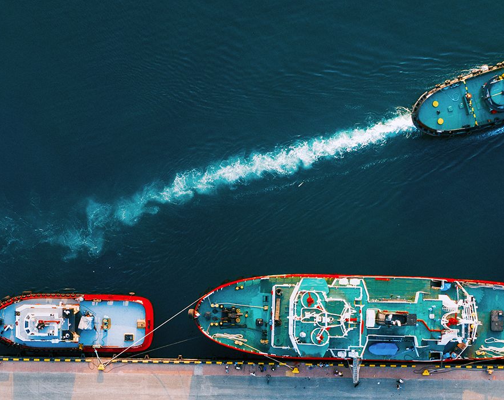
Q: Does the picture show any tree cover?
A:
No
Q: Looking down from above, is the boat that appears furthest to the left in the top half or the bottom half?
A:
bottom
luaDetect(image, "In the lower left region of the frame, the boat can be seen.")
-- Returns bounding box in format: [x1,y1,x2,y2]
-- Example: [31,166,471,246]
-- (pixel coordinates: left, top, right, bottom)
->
[0,292,154,354]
